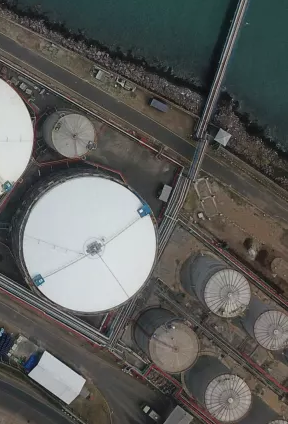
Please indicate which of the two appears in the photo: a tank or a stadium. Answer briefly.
tank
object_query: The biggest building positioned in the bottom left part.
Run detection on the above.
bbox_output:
[26,344,86,404]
